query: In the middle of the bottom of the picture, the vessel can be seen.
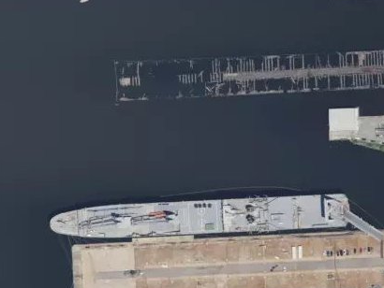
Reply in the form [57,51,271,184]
[49,194,350,238]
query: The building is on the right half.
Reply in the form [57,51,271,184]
[329,108,362,133]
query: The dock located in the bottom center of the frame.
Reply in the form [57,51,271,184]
[74,230,384,288]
